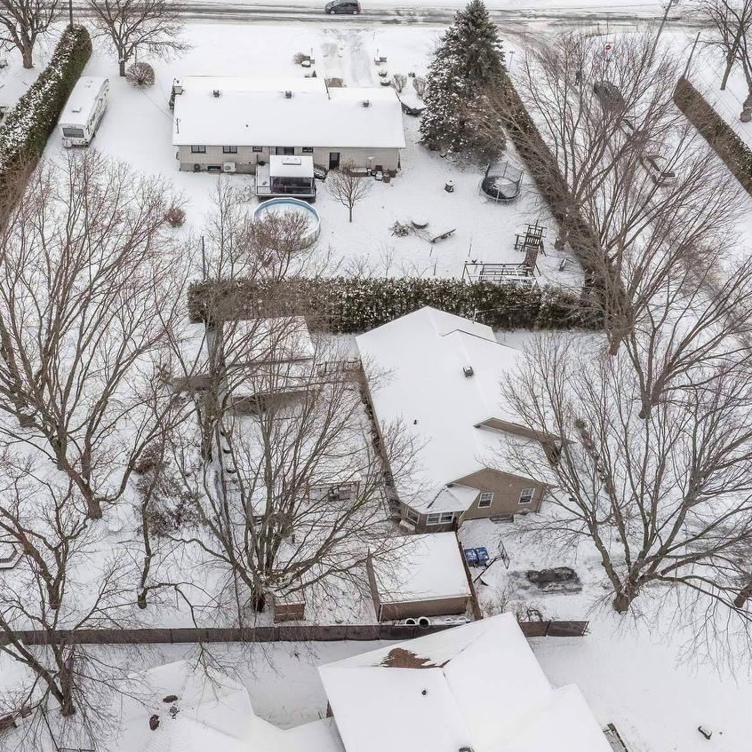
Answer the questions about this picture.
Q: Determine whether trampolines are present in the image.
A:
Yes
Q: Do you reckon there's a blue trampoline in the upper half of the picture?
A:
No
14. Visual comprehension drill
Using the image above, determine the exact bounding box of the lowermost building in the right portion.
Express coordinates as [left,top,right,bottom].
[318,614,615,752]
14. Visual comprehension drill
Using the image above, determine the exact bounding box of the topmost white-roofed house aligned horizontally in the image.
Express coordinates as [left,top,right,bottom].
[174,72,407,174]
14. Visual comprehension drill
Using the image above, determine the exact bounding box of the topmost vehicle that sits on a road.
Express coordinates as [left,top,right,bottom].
[323,0,358,14]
